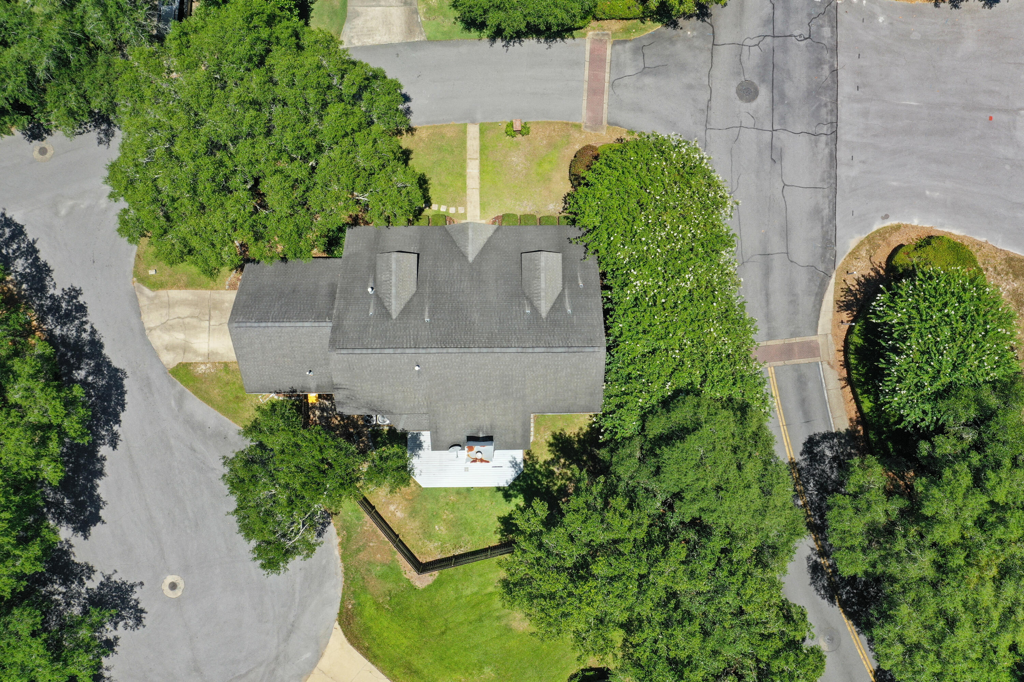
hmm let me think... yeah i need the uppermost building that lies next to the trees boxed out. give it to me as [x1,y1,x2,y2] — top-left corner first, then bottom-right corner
[227,220,606,488]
